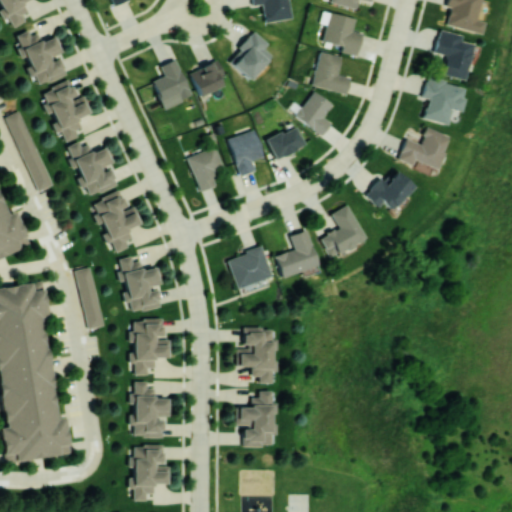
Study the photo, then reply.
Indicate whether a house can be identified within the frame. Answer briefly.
Yes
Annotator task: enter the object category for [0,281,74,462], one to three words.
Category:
building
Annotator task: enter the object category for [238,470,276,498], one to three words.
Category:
sports court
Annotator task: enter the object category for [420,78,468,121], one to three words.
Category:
house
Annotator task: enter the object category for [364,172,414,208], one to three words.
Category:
house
